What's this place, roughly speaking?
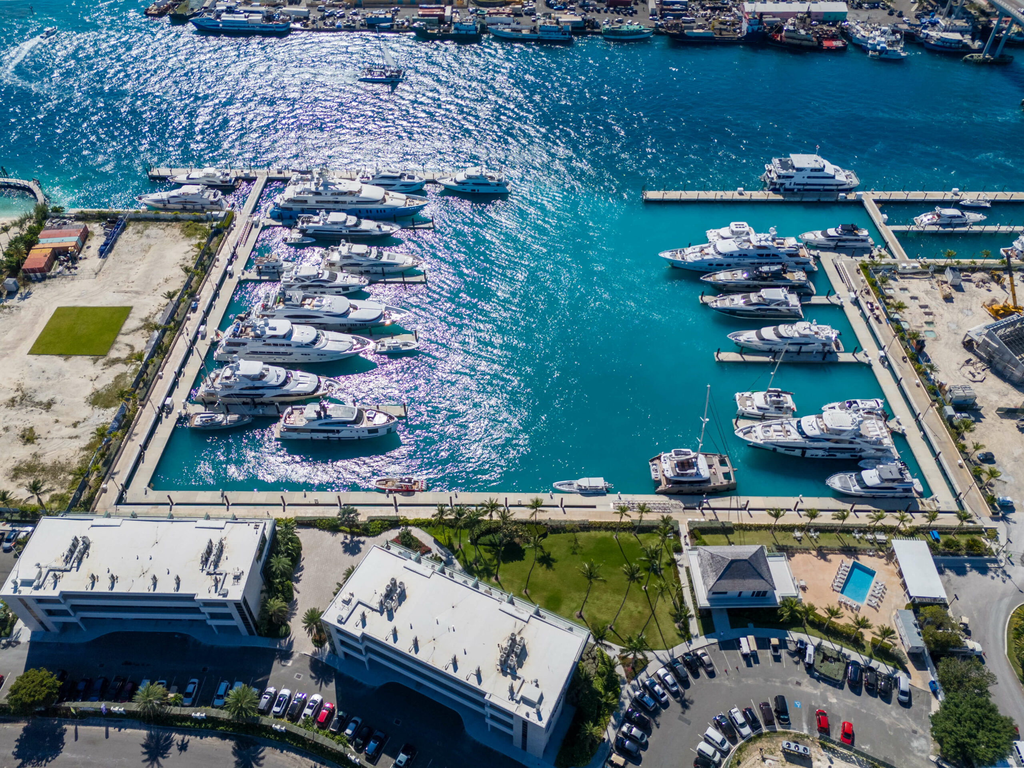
port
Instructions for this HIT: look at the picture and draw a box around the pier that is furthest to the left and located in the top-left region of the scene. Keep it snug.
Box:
[0,177,49,206]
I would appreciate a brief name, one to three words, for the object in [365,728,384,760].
car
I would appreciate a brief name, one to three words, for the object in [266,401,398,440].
boat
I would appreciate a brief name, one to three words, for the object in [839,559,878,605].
swimming pool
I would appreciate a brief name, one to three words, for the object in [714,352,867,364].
pier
